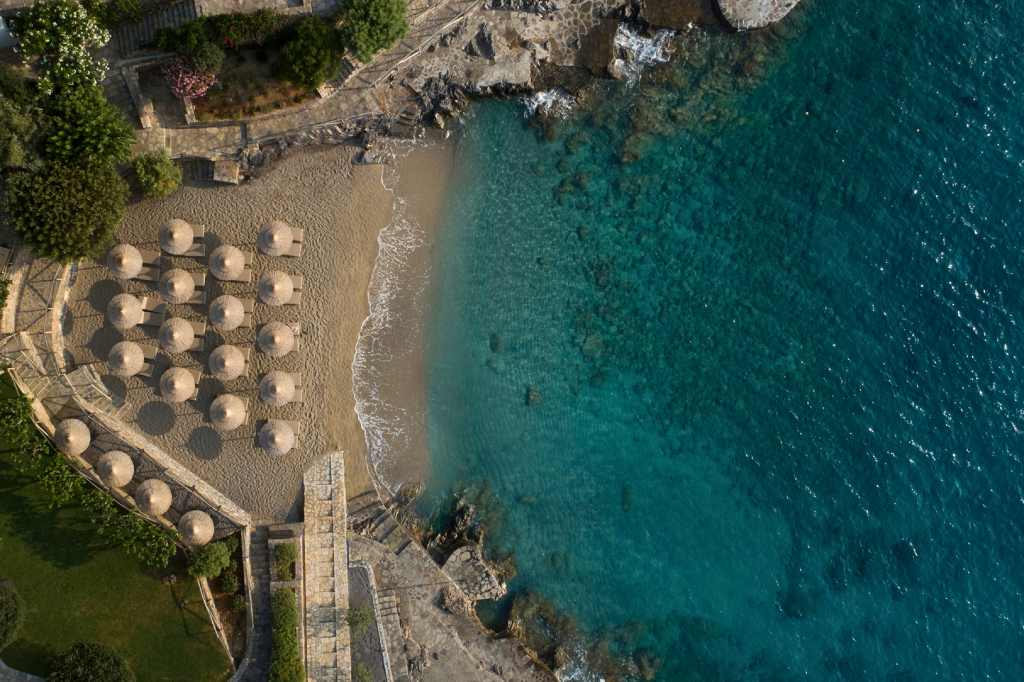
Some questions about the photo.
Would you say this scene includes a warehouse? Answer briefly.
No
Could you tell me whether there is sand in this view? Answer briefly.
Yes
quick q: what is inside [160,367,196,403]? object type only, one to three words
umbrella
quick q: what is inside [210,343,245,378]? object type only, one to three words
umbrella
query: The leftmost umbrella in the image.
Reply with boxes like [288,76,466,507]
[56,419,92,456]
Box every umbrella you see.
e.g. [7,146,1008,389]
[260,418,296,455]
[177,510,214,547]
[158,316,194,353]
[161,218,198,255]
[97,448,134,486]
[258,370,294,407]
[260,320,297,358]
[137,478,175,516]
[210,243,247,280]
[259,219,295,256]
[211,392,246,428]
[108,341,145,379]
[56,419,92,456]
[260,271,297,308]
[109,242,147,279]
[210,343,245,378]
[161,270,197,305]
[210,295,245,331]
[160,367,196,403]
[107,292,145,329]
